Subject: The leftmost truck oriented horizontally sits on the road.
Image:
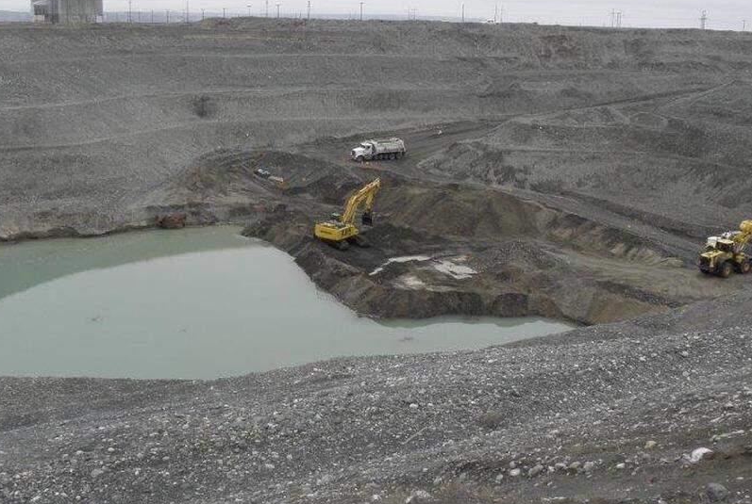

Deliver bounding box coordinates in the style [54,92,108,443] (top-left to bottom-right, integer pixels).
[348,138,409,160]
